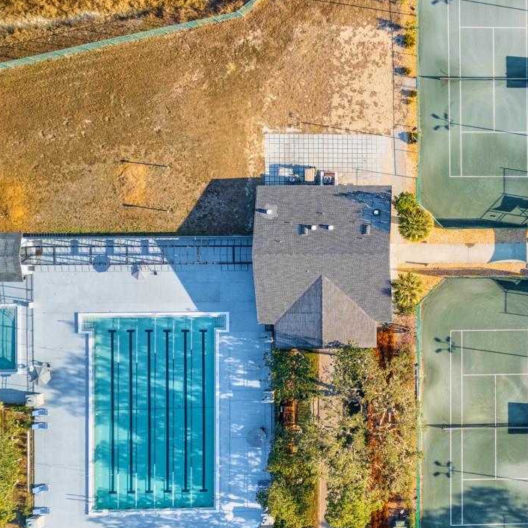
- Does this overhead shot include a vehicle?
No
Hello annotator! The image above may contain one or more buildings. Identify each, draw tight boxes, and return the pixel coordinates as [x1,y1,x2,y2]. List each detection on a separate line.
[258,186,392,349]
[0,234,33,280]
